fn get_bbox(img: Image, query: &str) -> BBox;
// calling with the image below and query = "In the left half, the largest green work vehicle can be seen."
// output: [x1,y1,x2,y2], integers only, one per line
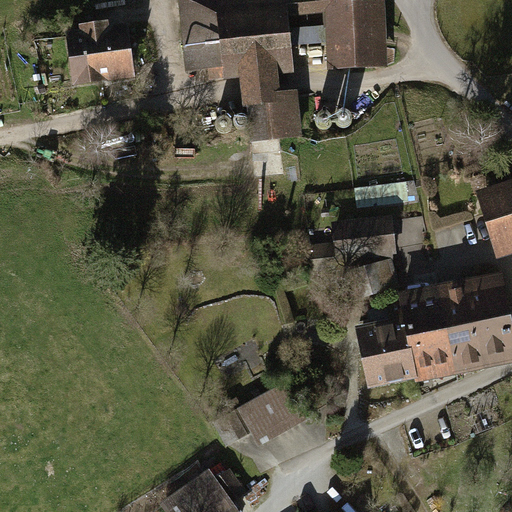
[36,146,56,160]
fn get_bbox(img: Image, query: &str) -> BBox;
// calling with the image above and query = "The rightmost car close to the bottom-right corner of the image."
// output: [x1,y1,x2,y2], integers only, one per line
[437,416,451,440]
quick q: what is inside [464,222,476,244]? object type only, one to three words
vehicle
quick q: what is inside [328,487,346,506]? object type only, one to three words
vehicle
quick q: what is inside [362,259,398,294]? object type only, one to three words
building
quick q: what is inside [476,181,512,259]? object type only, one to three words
house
